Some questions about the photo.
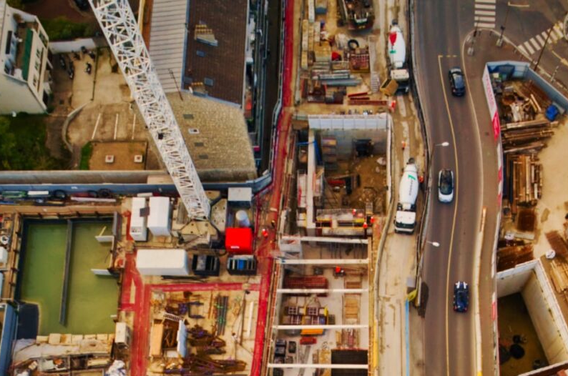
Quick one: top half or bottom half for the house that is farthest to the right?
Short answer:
top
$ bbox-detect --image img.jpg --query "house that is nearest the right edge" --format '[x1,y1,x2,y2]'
[145,0,269,165]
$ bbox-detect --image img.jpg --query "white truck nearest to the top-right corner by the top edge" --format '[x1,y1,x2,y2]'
[387,7,412,88]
